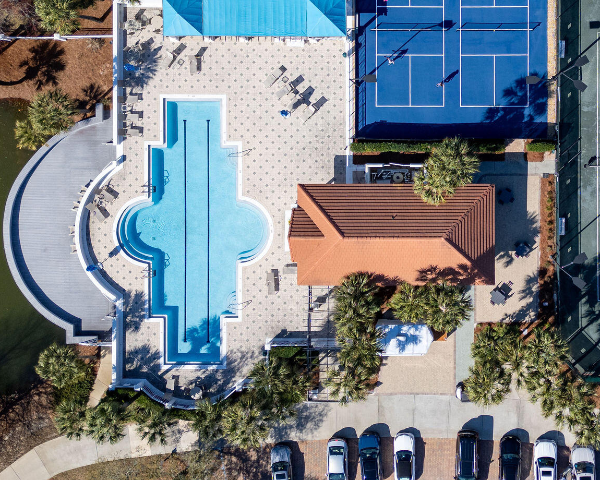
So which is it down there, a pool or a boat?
pool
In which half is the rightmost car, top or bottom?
bottom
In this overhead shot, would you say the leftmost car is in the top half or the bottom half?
bottom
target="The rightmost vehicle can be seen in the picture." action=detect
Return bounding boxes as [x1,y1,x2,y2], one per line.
[562,445,597,480]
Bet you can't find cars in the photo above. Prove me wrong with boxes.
[325,438,350,480]
[498,435,524,480]
[562,445,597,480]
[357,431,383,480]
[390,432,417,480]
[267,445,293,480]
[454,429,481,480]
[532,438,559,480]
